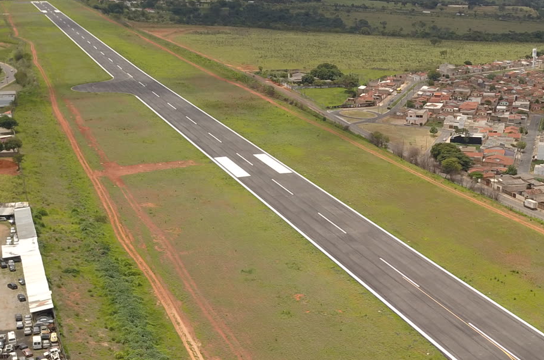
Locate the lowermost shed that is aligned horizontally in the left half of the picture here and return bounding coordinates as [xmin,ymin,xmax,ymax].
[1,237,39,259]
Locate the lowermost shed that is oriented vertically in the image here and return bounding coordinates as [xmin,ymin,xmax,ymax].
[21,255,54,320]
